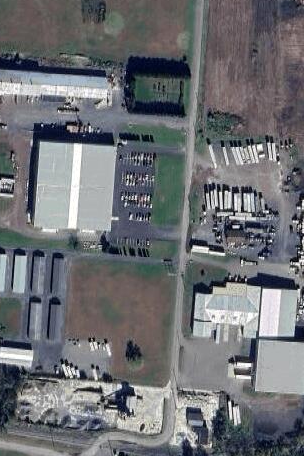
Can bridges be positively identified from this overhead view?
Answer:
No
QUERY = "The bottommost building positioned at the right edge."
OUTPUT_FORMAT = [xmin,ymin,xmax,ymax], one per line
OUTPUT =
[256,339,304,394]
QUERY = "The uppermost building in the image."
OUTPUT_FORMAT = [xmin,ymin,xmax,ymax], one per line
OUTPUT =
[0,66,115,104]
